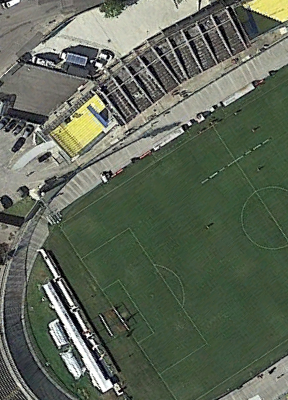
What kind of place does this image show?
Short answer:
sports ground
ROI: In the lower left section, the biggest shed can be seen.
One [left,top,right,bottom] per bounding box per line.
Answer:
[43,283,111,391]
